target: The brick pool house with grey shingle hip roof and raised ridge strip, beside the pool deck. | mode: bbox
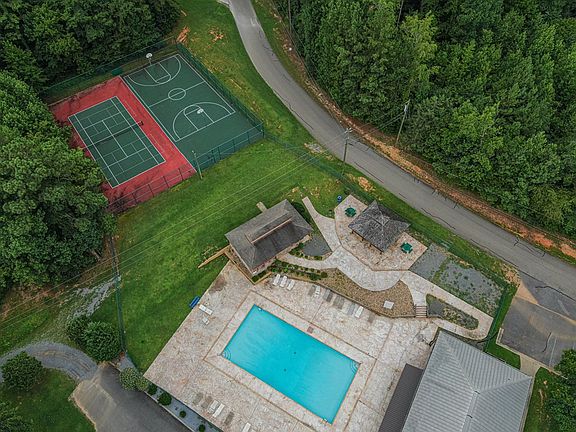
[224,199,314,275]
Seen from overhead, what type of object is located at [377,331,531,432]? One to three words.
building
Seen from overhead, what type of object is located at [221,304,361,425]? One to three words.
swimming pool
